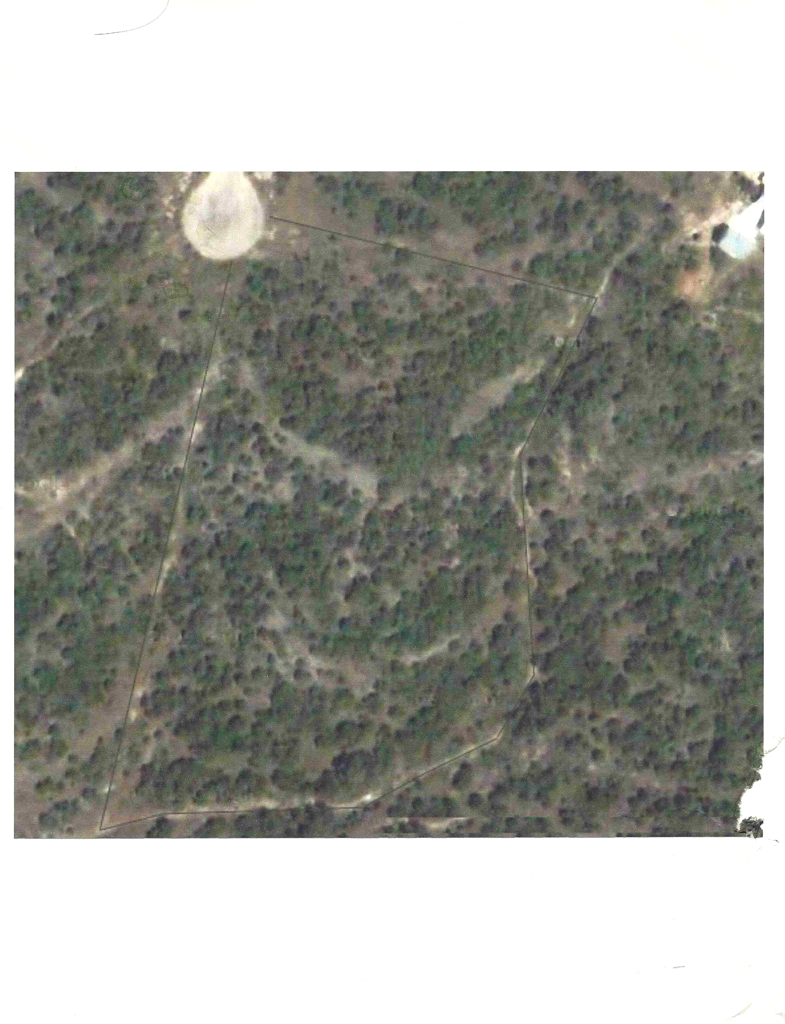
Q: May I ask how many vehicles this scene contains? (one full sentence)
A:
No vehicles are visible.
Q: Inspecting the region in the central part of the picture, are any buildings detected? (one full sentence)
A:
No, no building appears in the central part of the picture.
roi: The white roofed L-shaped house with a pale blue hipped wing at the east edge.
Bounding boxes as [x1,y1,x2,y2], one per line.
[721,196,765,259]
